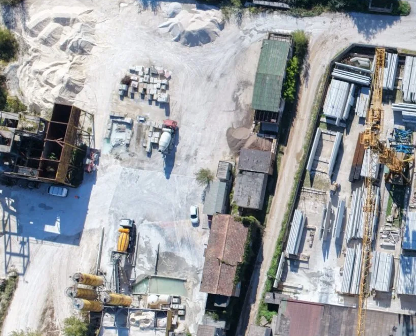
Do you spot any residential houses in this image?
Yes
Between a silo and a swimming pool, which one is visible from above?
silo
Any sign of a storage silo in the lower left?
Yes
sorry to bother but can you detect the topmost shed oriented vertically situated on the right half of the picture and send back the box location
[252,32,297,131]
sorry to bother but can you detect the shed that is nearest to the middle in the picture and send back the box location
[216,160,237,182]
